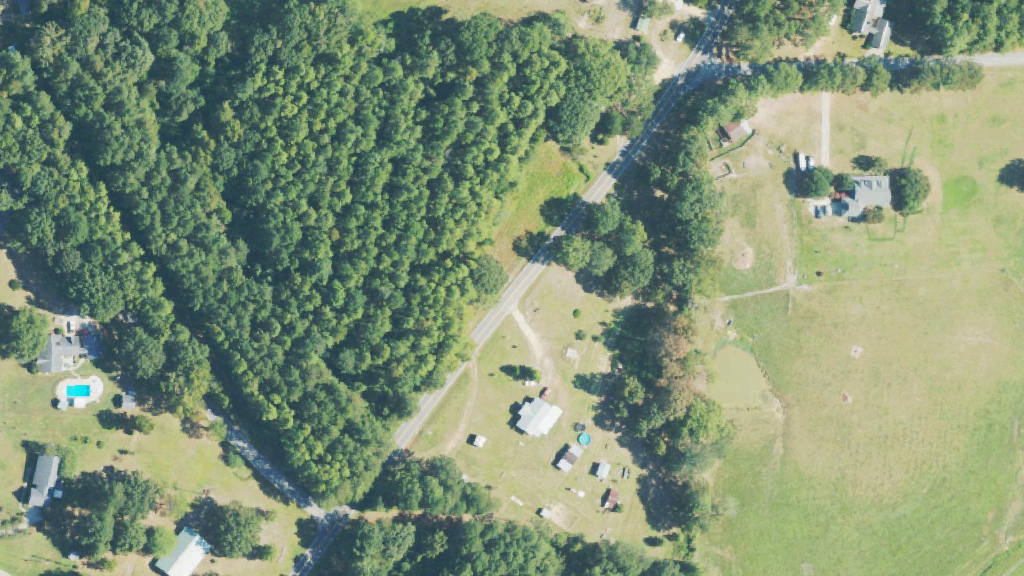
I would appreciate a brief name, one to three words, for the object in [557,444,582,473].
barn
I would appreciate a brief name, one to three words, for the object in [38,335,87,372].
house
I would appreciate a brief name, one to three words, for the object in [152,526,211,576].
barn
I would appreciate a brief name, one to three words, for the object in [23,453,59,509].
house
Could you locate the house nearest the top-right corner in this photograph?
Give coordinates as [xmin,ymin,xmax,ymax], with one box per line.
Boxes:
[847,0,894,50]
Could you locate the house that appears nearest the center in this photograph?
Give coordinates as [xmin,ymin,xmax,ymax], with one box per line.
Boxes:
[516,394,564,438]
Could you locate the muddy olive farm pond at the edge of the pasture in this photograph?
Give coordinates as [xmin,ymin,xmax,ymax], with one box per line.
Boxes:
[710,347,771,408]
